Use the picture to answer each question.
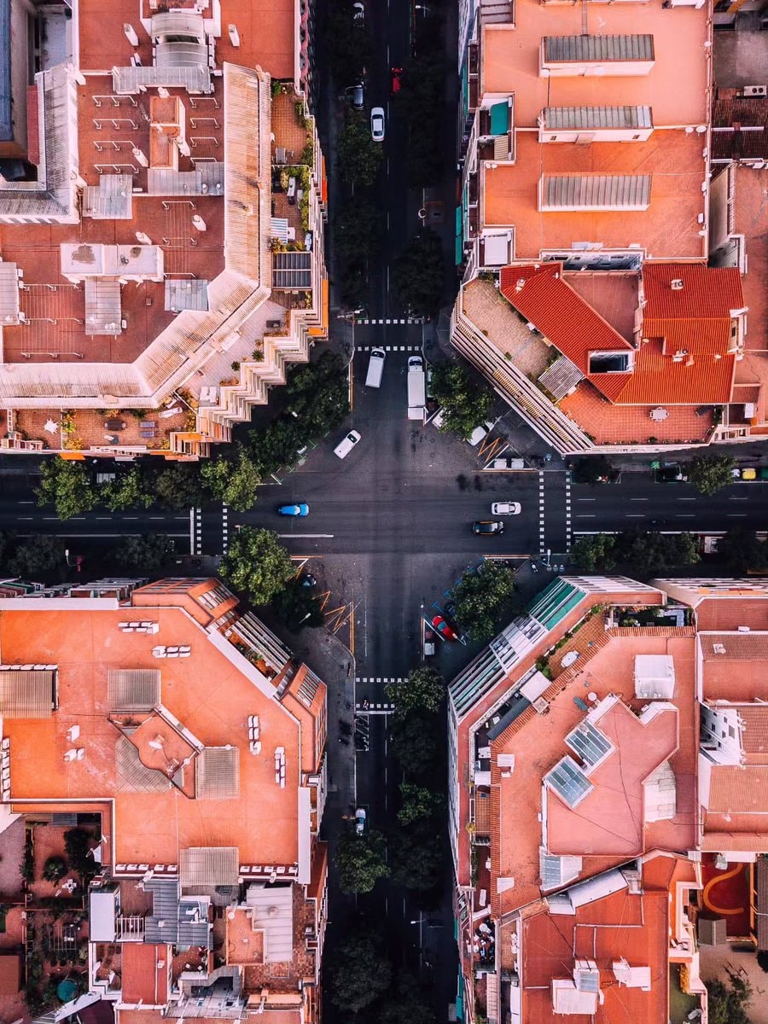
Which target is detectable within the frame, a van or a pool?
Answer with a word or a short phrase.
van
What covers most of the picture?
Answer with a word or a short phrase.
buildings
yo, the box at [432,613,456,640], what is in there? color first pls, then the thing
red car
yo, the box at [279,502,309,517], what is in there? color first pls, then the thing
blue car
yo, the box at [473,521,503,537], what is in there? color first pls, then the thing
black car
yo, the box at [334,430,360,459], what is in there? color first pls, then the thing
white vehicle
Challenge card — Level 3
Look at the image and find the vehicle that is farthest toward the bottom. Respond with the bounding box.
[353,805,368,834]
